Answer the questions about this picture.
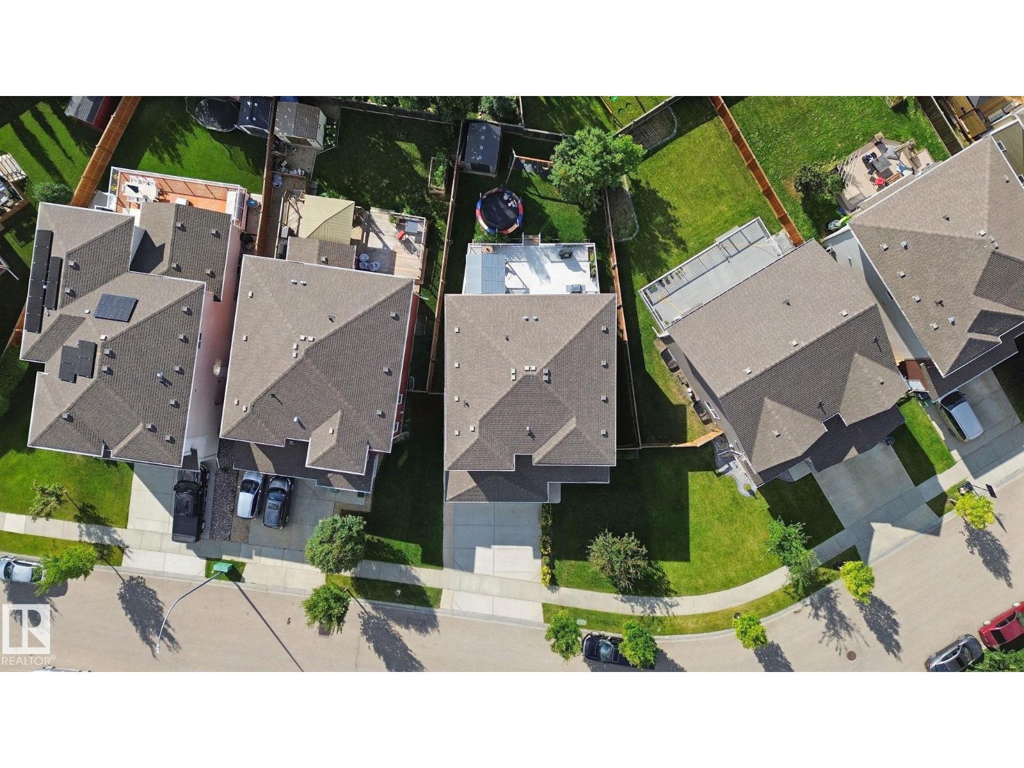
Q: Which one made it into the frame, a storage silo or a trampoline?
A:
trampoline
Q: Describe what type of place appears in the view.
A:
residential area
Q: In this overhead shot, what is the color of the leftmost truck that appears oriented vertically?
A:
black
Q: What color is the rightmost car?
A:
red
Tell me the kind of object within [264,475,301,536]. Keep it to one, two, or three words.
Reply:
car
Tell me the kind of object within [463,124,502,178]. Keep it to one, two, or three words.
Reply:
shed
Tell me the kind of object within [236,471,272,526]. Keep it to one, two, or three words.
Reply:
car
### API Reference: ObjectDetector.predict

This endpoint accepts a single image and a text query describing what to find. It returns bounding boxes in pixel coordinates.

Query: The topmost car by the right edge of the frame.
[927,392,986,451]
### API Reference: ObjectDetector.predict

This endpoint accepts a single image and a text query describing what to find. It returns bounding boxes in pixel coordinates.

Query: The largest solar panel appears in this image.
[91,292,137,320]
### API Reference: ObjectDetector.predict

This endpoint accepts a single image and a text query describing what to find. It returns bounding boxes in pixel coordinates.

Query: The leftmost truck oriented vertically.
[171,463,214,547]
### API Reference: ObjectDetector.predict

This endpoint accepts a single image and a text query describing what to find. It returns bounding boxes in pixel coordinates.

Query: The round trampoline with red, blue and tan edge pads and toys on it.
[476,187,524,236]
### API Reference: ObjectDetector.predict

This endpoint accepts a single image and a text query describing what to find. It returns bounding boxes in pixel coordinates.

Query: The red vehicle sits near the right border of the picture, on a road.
[978,594,1024,645]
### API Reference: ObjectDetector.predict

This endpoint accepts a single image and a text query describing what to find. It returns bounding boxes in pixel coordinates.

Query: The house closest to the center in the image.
[443,293,618,503]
